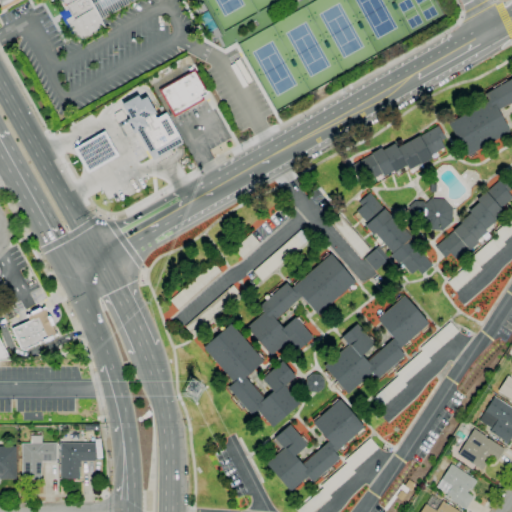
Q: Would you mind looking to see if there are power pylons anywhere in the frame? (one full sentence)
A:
Yes, a power pylon is visible in the scene.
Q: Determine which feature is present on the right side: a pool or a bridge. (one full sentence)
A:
You can see a pool on the right side.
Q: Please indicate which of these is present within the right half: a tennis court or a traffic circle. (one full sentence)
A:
It is a tennis court that can be seen within the right half.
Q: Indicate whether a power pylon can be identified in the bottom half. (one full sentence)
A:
Yes, a power pylon shows up in the bottom half.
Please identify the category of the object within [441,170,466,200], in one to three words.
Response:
swimming pool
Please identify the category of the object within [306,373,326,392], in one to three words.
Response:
gazebo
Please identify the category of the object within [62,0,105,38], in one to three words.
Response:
building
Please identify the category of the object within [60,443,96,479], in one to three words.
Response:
house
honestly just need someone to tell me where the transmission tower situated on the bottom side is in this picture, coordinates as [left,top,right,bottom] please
[183,376,207,404]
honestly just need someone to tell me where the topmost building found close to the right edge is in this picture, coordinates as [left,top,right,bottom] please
[452,80,512,154]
